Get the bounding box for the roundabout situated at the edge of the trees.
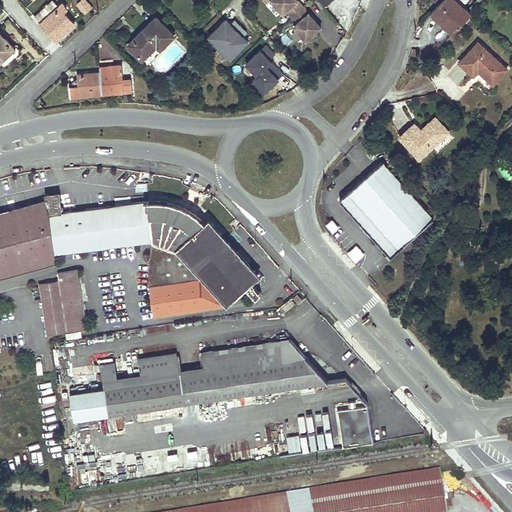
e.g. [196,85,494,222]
[218,114,318,214]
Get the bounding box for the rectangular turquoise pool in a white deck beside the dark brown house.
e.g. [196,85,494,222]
[153,40,186,72]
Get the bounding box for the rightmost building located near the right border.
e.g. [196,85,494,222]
[458,37,508,88]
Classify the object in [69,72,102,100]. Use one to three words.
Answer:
house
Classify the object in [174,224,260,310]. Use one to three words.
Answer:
building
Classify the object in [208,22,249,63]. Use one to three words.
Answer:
house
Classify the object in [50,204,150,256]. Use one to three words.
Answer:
building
